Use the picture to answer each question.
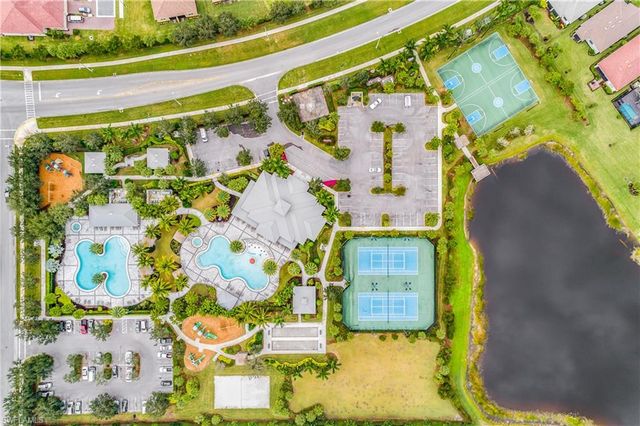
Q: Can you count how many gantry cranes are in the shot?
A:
zero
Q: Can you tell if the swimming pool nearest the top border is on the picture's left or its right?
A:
right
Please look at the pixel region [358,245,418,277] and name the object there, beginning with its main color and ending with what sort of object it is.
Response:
blue tennis court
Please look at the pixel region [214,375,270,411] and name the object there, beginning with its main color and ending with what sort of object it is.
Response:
white sports court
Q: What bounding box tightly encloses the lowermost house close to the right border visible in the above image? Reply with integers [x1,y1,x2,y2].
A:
[593,35,640,92]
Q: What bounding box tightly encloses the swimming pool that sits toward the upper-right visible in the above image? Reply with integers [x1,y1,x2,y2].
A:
[617,102,640,125]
